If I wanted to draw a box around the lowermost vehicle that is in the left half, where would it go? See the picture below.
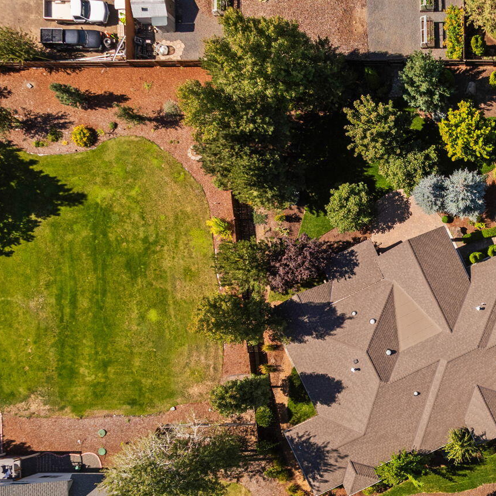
[35,23,102,53]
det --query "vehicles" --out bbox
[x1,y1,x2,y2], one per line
[37,0,108,27]
[35,23,102,53]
